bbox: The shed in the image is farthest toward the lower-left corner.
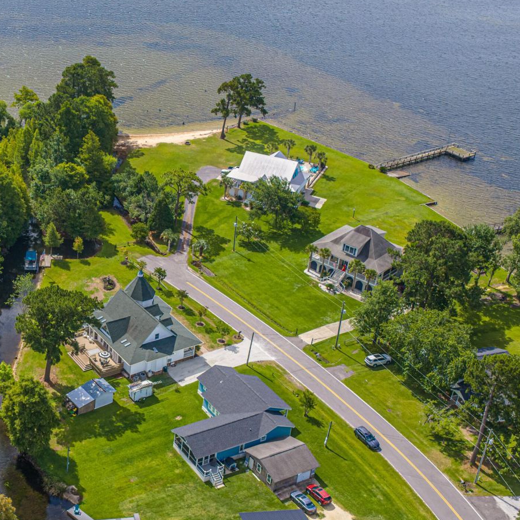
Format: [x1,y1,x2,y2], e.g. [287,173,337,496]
[66,378,116,414]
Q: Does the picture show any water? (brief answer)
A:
Yes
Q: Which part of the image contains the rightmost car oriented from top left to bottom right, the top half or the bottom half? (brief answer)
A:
bottom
